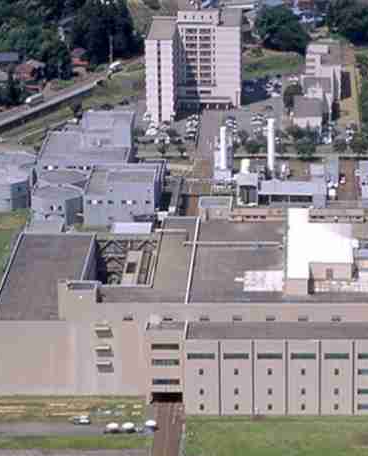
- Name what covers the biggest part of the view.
buildings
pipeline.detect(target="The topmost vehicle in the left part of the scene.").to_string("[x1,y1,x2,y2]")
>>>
[105,59,127,72]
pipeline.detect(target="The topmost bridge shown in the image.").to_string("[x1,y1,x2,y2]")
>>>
[0,80,105,134]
